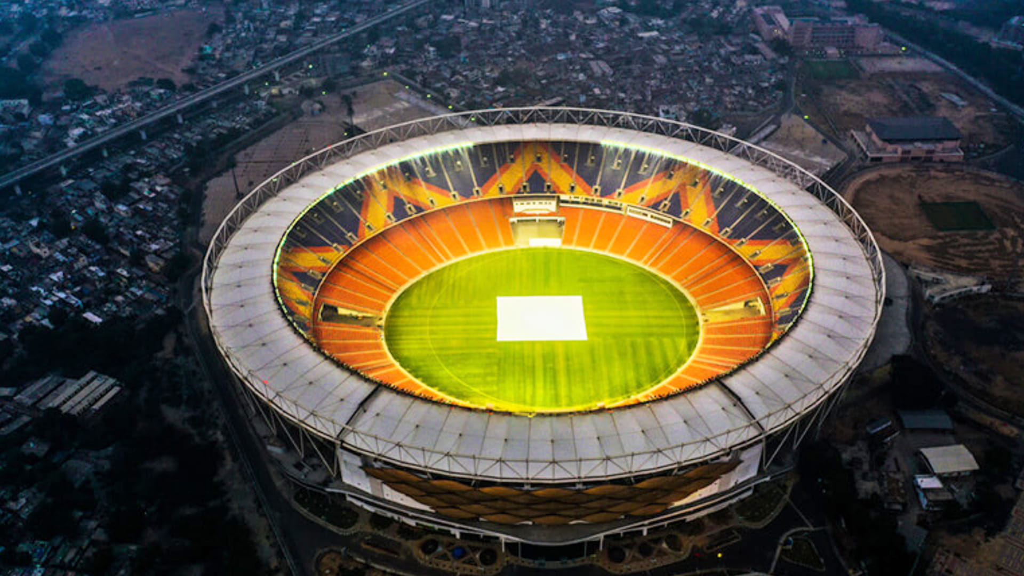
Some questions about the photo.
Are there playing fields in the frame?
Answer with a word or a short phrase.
Yes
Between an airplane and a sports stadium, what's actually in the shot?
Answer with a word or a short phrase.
sports stadium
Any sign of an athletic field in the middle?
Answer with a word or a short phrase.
Yes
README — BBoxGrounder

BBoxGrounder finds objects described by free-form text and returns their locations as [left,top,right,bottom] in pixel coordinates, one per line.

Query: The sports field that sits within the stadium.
[384,247,698,411]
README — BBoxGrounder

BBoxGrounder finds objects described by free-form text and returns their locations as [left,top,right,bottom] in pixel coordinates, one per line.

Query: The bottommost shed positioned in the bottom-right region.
[897,523,928,561]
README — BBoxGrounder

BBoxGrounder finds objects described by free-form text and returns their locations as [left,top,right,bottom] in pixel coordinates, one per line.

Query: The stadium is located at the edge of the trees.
[205,107,885,559]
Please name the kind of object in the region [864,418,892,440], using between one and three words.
shed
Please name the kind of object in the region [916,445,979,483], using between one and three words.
shed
